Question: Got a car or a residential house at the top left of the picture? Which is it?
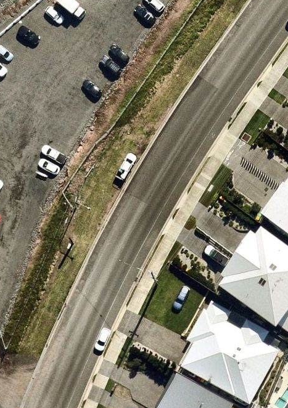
car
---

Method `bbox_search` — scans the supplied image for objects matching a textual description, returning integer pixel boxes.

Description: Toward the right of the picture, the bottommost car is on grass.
[172,285,190,311]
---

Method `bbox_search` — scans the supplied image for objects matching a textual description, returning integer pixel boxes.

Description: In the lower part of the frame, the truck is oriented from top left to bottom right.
[202,246,230,269]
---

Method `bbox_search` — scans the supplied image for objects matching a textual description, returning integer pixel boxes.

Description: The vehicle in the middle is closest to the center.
[111,153,136,191]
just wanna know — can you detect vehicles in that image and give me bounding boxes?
[97,53,125,80]
[172,285,190,311]
[37,157,62,178]
[94,327,112,355]
[143,0,167,14]
[0,44,15,64]
[80,79,103,103]
[202,246,230,269]
[108,43,132,67]
[0,62,10,79]
[44,5,66,25]
[53,0,88,22]
[111,153,136,191]
[40,143,68,168]
[15,27,40,45]
[132,3,157,29]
